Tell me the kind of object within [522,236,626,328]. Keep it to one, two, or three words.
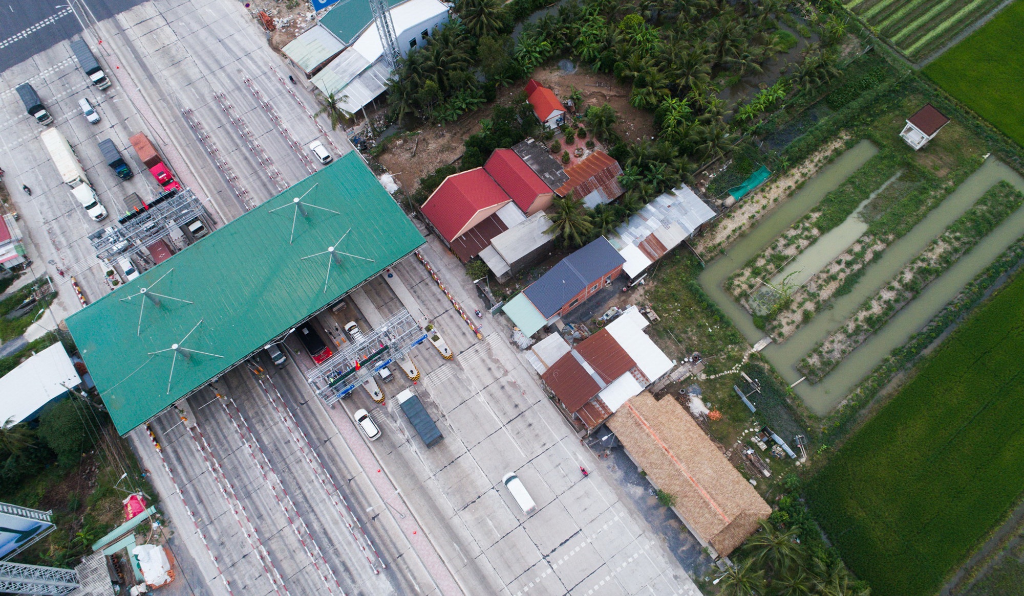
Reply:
house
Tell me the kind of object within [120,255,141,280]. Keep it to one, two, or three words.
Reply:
car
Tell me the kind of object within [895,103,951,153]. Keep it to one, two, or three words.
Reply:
building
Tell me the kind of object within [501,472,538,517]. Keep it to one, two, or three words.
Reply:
vehicle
